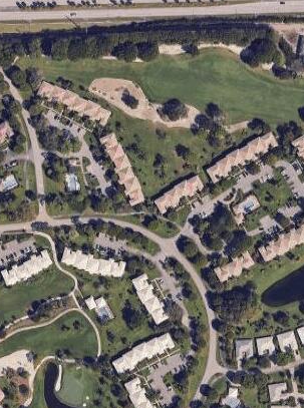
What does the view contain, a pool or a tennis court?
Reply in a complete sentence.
There is a pool in the scene.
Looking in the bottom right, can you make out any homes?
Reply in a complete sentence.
Yes, there is a home in the bottom right.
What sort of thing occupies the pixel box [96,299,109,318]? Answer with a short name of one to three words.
swimming pool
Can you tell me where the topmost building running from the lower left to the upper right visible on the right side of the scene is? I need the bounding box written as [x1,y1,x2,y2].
[208,131,278,181]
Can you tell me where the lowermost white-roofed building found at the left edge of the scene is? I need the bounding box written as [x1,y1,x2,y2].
[2,250,54,285]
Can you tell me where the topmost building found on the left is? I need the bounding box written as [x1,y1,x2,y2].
[36,80,111,125]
